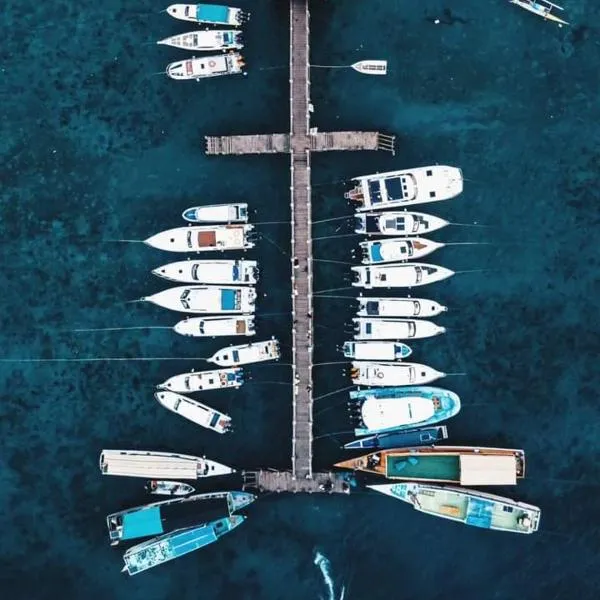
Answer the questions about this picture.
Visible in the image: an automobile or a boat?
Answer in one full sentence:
It is a boat that can be seen here.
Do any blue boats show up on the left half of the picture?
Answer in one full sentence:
Yes, I can see a blue boat on the left half of the picture.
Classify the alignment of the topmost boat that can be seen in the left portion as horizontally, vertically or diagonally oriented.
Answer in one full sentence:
From this overhead view, the topmost boat that can be seen in the left portion appears to run horizontally.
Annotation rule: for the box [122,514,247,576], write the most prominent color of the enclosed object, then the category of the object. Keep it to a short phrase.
blue boat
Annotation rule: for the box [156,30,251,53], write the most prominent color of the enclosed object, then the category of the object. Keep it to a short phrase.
white boat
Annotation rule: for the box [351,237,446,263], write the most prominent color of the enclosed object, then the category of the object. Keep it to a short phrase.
white boat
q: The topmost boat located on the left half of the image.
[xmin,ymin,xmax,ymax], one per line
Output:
[166,1,252,29]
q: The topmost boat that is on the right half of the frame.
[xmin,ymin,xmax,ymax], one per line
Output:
[504,0,571,25]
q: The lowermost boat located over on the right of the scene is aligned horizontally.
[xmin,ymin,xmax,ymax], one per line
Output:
[365,482,541,533]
